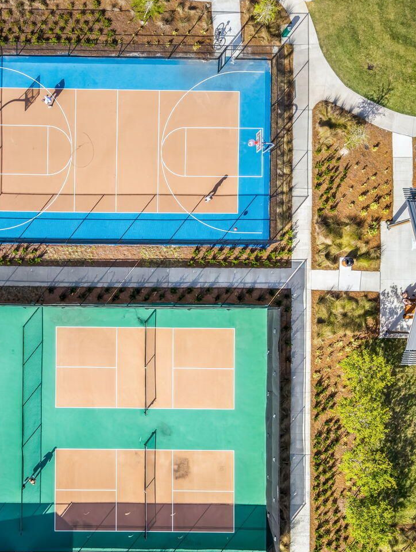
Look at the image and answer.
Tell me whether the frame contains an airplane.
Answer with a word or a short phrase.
No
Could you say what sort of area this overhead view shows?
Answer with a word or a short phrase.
sports ground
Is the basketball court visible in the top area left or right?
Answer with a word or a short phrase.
left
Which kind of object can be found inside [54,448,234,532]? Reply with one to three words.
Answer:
sports court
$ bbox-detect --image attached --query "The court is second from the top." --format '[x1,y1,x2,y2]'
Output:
[55,327,236,409]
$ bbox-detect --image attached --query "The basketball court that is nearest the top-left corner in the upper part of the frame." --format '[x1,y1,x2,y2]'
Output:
[0,55,271,248]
